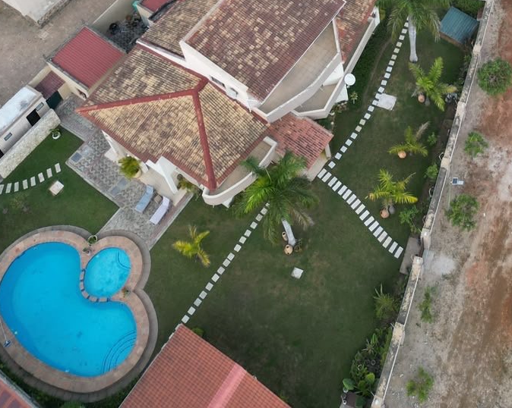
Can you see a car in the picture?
No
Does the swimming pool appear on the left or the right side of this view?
left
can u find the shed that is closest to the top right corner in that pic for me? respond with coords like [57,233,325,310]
[440,6,480,57]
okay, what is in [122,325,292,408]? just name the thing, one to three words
building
